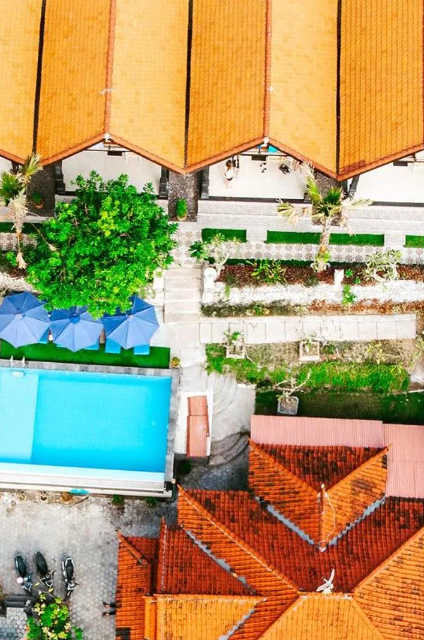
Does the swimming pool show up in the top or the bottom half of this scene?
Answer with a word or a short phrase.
bottom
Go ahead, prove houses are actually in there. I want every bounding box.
[34,0,191,204]
[338,0,424,212]
[0,0,45,198]
[186,0,340,207]
[115,440,424,640]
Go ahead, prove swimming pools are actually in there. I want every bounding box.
[0,354,179,502]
